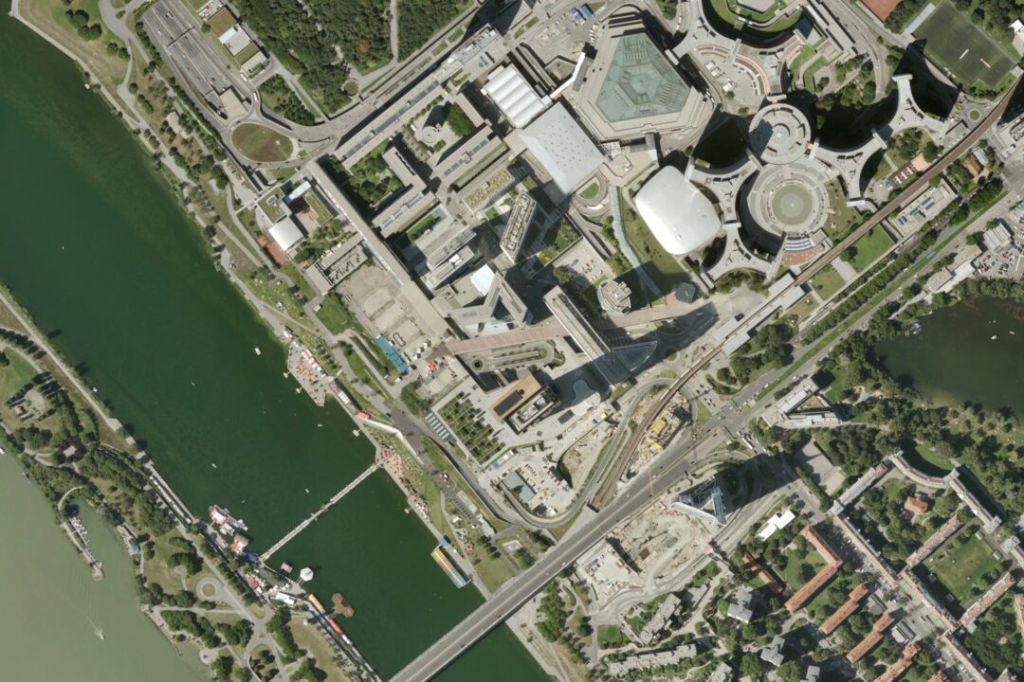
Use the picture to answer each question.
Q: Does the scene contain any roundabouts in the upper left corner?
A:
Yes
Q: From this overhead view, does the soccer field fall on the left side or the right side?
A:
right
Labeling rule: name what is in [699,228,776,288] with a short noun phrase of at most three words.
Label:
building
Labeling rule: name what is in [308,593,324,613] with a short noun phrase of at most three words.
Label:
ship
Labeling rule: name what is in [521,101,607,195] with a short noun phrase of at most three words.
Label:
building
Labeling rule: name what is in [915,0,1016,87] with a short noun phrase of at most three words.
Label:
soccer field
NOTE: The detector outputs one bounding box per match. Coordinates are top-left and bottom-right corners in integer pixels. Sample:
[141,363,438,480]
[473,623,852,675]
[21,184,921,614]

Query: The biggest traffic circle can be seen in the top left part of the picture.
[222,113,302,170]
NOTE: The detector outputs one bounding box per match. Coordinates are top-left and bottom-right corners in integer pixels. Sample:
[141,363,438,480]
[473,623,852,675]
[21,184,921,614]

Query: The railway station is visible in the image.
[712,272,816,354]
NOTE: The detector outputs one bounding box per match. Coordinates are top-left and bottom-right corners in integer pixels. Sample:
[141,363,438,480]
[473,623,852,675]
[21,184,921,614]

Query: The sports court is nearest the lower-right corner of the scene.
[793,440,847,496]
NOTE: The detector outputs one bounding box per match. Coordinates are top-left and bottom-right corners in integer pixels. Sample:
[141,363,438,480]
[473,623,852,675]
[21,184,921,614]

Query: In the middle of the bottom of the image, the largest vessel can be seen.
[430,546,465,587]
